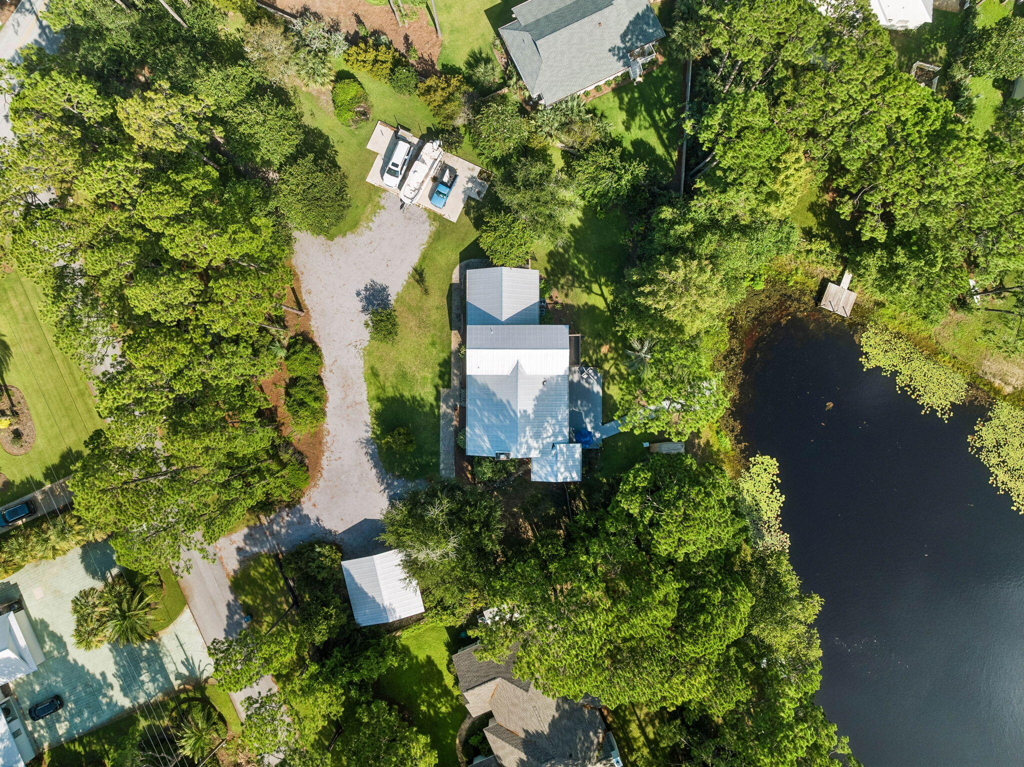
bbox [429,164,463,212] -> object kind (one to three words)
truck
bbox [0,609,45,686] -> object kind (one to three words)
house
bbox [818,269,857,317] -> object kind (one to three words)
pier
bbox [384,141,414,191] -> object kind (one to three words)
car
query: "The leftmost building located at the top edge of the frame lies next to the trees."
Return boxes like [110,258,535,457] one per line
[498,0,666,107]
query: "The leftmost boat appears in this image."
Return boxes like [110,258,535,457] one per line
[401,137,443,204]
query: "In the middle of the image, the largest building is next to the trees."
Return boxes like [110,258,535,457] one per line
[465,266,583,483]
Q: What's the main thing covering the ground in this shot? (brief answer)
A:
trees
